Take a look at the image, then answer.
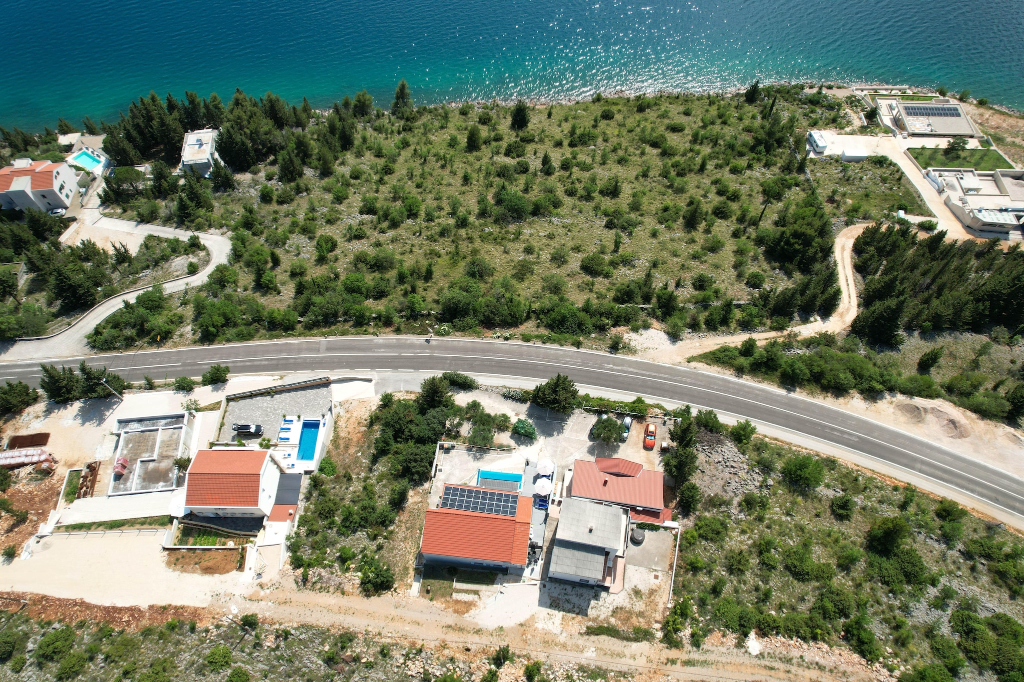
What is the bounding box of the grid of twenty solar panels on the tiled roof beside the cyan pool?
[440,486,519,516]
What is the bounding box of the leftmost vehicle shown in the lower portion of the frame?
[229,422,264,437]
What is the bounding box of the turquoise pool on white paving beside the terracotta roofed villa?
[65,147,110,177]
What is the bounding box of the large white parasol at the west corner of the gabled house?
[167,494,192,520]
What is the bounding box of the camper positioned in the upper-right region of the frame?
[807,130,827,153]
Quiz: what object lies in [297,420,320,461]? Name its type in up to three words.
swimming pool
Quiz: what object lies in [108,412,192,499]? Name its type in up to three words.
building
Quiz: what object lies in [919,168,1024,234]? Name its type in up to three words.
house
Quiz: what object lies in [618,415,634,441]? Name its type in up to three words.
car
